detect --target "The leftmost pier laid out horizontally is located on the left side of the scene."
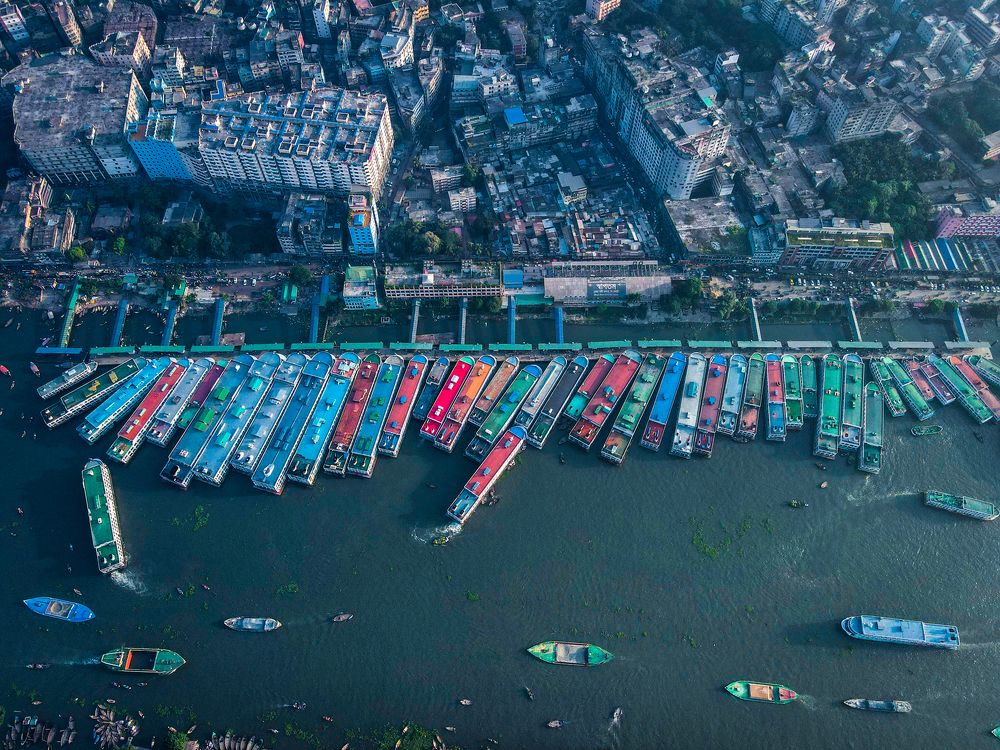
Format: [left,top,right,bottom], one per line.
[30,346,90,367]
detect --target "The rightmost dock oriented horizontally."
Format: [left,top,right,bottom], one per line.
[937,341,996,362]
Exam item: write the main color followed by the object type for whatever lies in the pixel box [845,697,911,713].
blue boat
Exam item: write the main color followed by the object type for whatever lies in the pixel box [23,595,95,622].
blue boat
